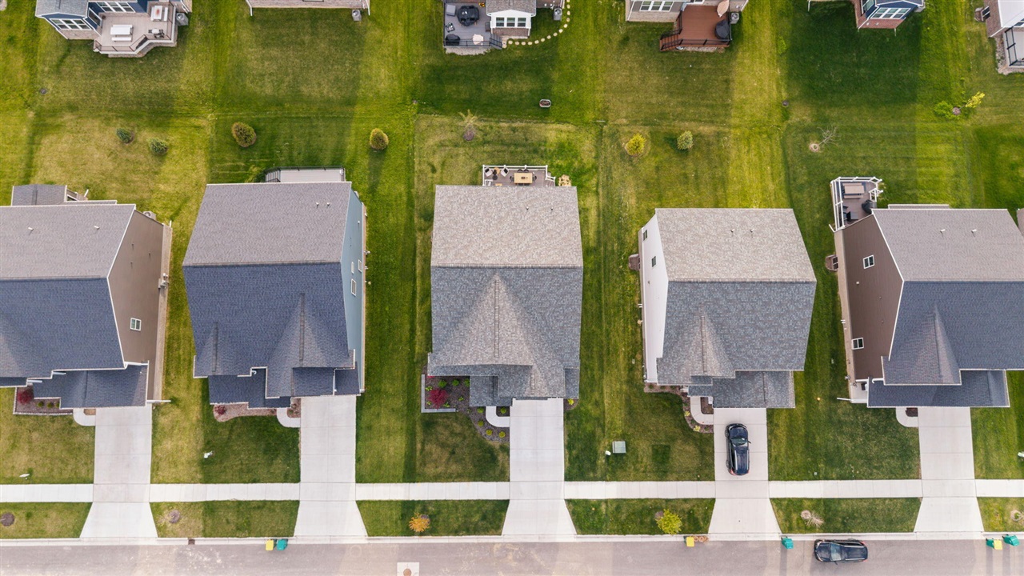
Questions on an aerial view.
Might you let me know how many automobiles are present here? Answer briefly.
2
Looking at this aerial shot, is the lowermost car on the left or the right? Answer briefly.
right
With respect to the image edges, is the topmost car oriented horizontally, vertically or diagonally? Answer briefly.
vertically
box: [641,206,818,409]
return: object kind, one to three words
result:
house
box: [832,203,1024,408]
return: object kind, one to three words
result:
house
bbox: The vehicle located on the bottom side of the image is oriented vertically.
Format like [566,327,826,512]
[724,421,752,478]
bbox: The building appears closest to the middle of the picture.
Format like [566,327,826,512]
[427,184,584,407]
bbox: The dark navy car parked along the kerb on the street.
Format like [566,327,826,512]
[812,540,872,568]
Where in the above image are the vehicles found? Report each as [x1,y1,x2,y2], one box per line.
[724,421,752,478]
[812,540,872,568]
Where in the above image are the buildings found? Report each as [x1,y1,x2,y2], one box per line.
[443,0,564,38]
[35,0,189,40]
[626,0,753,22]
[0,180,175,409]
[803,0,924,36]
[984,0,1024,35]
[641,206,818,409]
[427,184,584,407]
[832,203,1024,408]
[179,182,368,409]
[247,0,368,16]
